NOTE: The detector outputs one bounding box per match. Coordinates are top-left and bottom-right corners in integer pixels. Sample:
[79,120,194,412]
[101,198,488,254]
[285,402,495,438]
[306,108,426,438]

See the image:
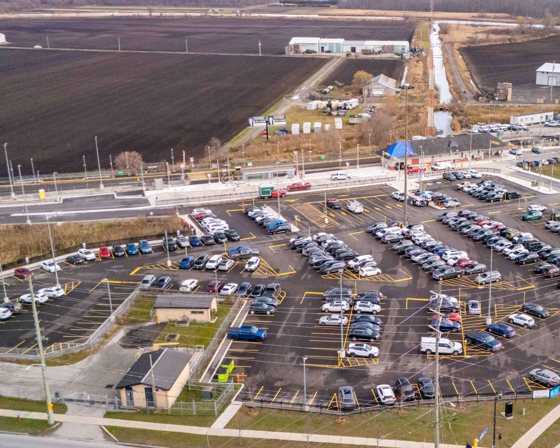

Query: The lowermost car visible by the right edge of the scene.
[528,371,560,388]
